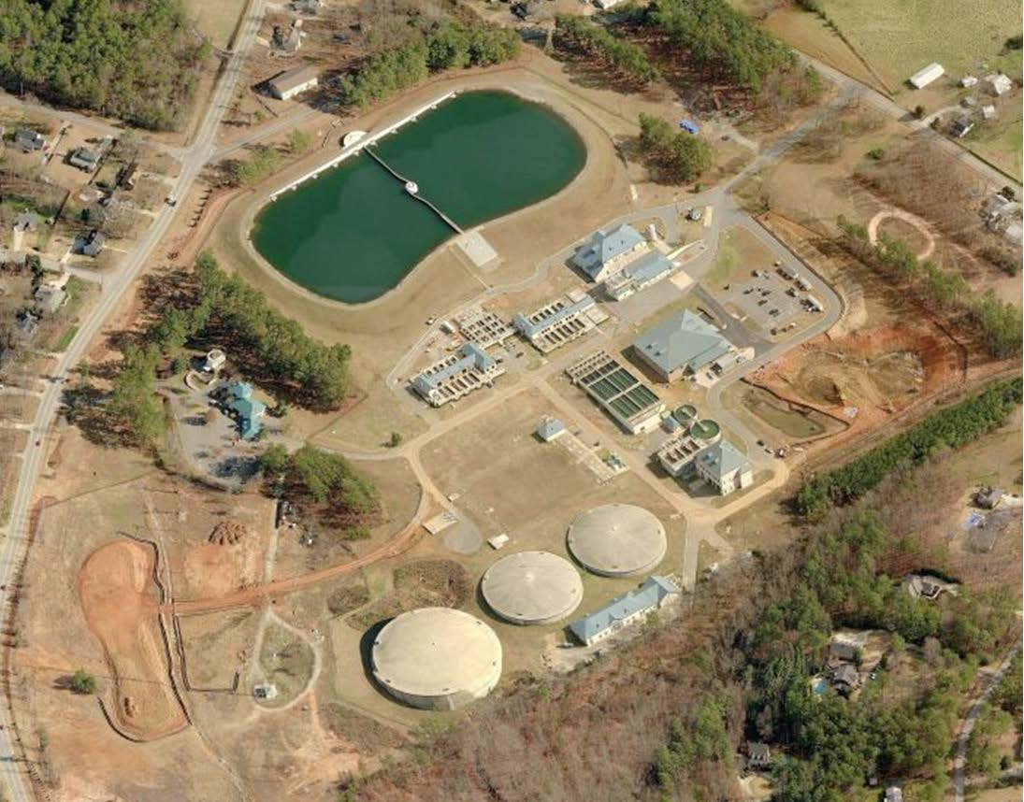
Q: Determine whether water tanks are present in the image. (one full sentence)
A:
Yes, the picture does show a water tank.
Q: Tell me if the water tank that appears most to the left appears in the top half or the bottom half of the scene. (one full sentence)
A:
You can find the water tank that appears most to the left in the bottom half.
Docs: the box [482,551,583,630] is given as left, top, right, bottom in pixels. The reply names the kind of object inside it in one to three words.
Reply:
water tank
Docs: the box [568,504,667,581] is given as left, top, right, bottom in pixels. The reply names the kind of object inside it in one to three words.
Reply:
water tank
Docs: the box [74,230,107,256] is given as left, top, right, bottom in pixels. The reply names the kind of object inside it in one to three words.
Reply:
house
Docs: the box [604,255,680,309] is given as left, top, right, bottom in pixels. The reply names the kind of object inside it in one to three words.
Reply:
building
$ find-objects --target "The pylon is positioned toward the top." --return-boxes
[542,16,557,52]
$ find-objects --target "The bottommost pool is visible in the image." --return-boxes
[810,676,828,699]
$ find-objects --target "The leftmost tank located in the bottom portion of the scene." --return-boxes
[372,606,501,713]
